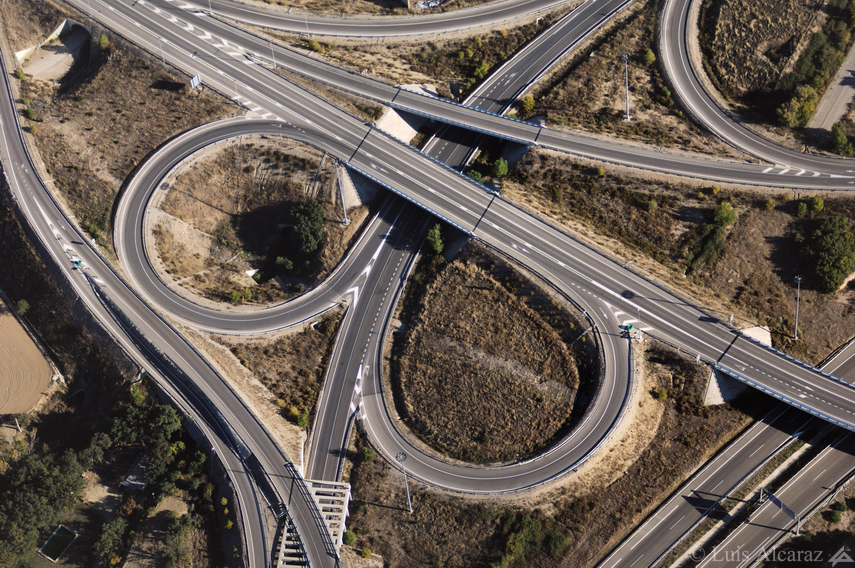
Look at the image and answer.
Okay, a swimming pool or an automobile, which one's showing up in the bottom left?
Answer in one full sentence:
The feature located in the bottom left is a swimming pool.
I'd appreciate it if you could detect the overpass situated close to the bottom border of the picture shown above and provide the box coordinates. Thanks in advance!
[271,469,341,568]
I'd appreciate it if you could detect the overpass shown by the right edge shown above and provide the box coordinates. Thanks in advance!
[713,327,855,434]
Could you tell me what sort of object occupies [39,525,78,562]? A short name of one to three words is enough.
swimming pool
